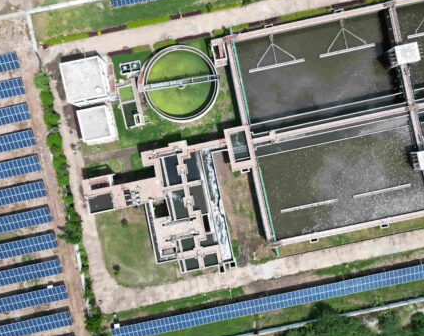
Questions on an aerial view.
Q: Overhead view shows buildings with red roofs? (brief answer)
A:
No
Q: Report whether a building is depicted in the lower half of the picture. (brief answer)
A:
No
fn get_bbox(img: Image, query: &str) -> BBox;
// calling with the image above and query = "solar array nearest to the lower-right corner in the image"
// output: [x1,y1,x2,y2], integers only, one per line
[112,266,424,336]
